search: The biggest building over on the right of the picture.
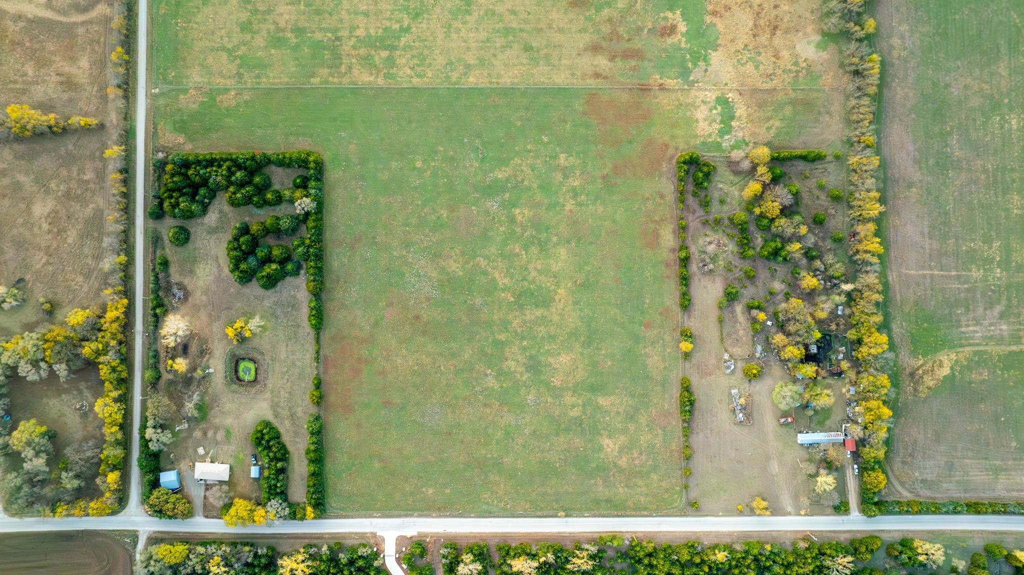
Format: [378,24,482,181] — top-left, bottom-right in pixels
[796,431,843,447]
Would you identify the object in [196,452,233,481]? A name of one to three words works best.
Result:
house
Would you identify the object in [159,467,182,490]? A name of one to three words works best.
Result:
building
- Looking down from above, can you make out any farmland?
Yes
